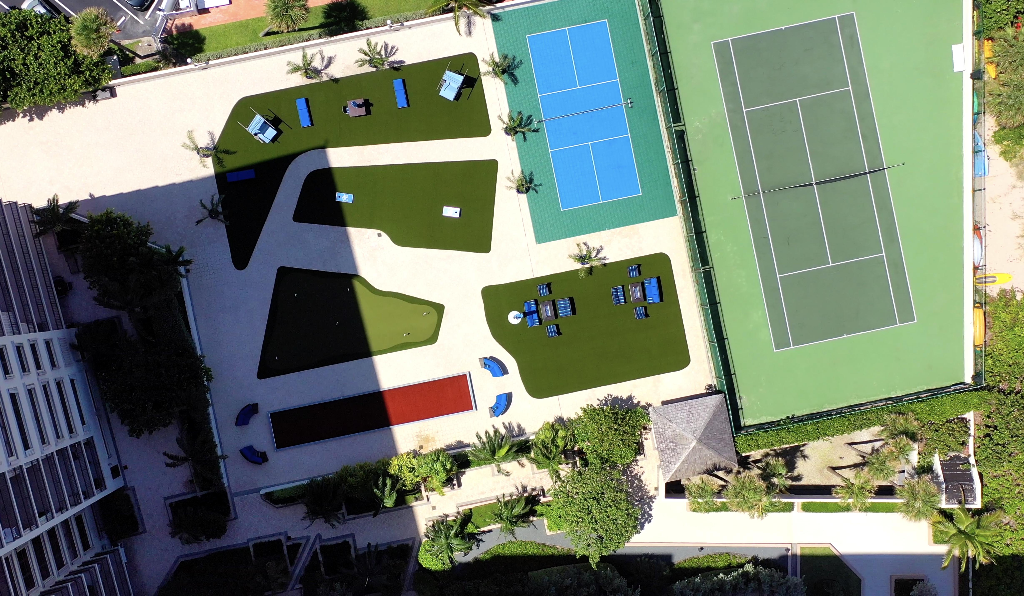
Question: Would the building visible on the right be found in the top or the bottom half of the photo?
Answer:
bottom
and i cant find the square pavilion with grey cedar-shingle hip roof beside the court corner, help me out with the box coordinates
[649,393,738,483]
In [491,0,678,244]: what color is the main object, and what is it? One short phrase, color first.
blue sports court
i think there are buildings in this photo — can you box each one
[649,393,738,483]
[0,198,140,596]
